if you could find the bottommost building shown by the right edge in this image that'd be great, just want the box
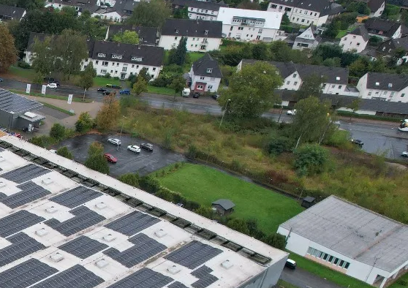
[273,195,408,288]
